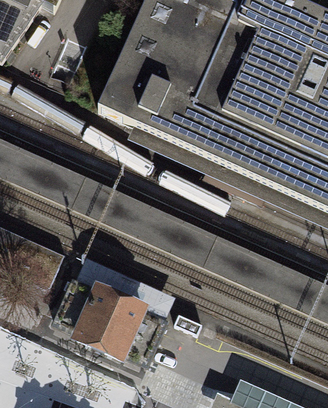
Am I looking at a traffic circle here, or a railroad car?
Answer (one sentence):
Looking from above, you can make out a railroad car.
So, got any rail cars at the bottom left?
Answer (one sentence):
No, no rail car can be made out at the bottom left.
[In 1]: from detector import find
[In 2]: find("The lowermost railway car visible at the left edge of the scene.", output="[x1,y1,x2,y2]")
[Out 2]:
[11,86,84,136]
